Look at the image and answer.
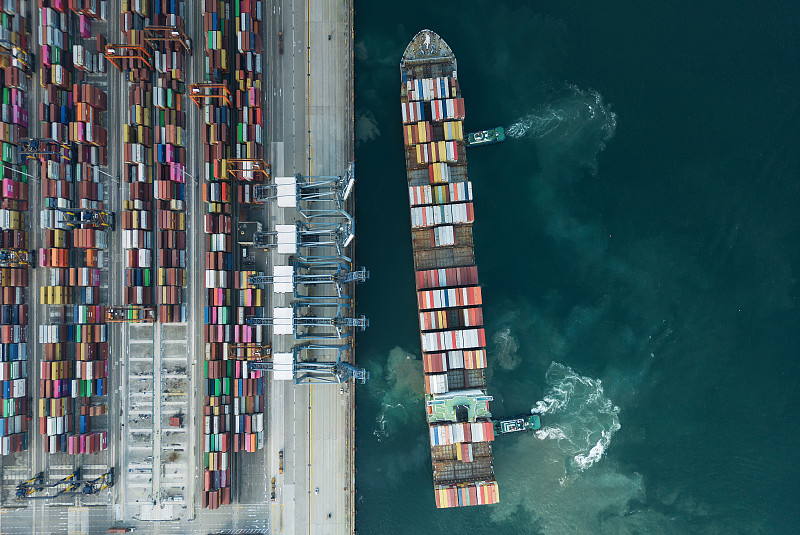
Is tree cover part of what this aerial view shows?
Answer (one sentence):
No, there is no tree cover in the image.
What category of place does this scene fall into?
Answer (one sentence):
The area seen from above is a port.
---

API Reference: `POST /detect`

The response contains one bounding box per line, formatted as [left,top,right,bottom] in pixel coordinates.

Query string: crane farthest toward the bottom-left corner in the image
[16,471,78,500]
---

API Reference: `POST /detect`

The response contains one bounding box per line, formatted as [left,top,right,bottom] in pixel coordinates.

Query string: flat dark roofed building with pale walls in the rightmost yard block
[238,222,263,244]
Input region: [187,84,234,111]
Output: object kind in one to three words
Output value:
container crane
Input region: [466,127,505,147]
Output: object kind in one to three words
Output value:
boat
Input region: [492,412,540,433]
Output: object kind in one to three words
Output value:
boat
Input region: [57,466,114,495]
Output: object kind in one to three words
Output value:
container crane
